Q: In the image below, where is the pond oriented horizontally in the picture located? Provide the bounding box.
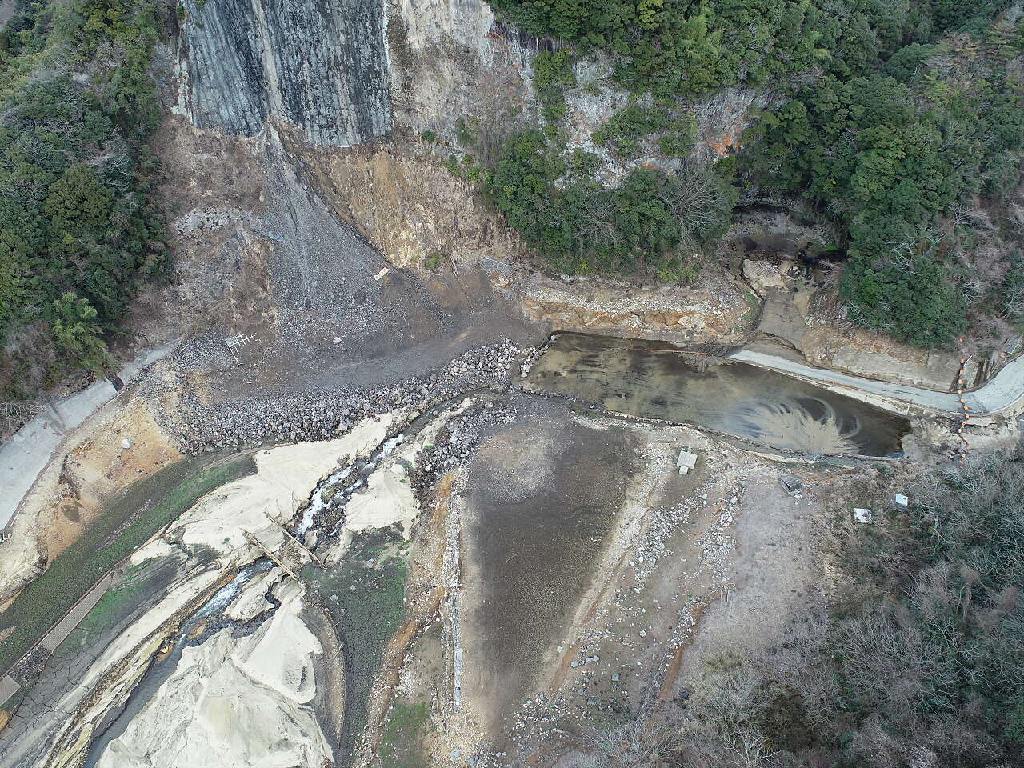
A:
[515,332,913,461]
